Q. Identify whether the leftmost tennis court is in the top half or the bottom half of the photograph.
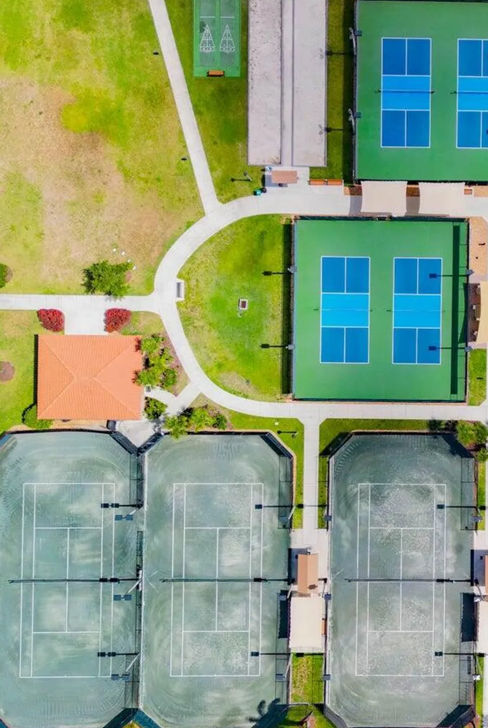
bottom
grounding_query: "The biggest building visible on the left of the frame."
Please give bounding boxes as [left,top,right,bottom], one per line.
[37,334,146,420]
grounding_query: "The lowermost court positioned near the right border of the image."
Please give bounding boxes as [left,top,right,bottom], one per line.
[325,435,477,728]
